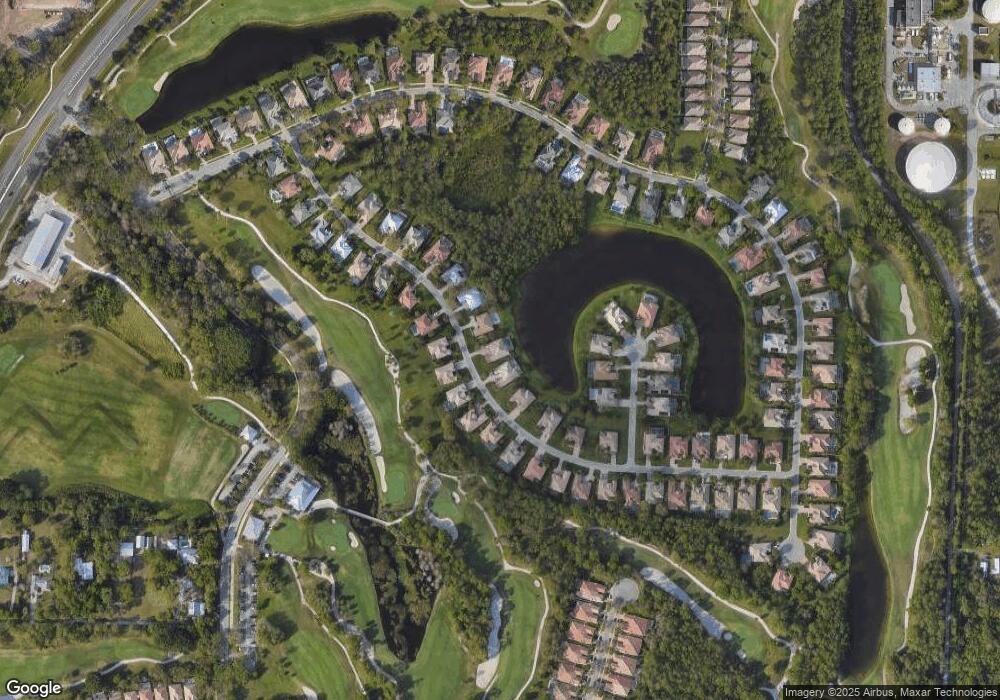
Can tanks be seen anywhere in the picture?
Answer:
Yes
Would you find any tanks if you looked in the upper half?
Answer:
Yes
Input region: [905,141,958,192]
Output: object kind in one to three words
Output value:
storage tank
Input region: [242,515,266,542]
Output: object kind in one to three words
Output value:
barn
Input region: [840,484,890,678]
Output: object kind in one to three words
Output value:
pond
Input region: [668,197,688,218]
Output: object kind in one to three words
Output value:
house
